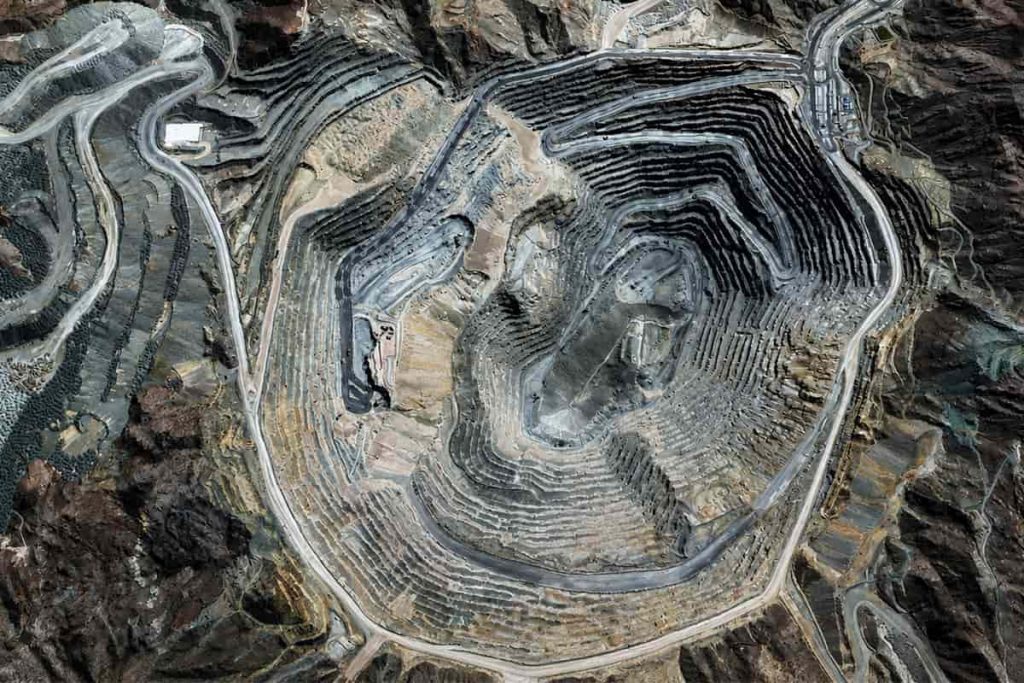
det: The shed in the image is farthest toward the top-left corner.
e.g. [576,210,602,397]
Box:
[165,123,200,150]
